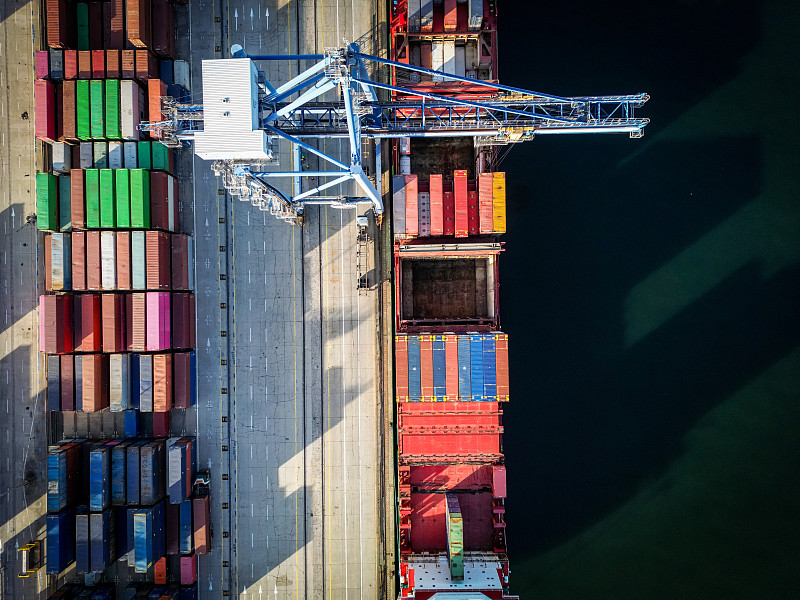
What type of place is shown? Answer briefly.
port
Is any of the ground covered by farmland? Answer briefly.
No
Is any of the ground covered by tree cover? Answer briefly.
No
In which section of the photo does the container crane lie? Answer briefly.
top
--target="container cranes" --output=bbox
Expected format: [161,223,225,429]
[132,31,661,233]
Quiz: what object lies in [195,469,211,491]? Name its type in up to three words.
vehicle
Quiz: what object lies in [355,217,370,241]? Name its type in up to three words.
vehicle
